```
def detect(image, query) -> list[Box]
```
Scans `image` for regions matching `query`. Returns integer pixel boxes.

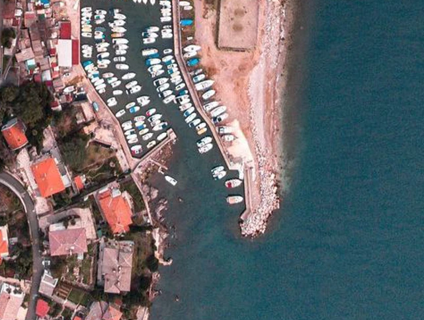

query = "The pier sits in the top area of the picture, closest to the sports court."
[173,0,234,171]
